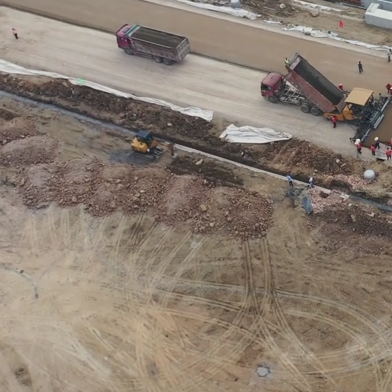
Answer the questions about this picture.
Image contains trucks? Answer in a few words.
Yes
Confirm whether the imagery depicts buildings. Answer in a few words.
No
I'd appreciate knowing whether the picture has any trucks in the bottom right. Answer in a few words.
No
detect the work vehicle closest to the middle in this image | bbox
[129,129,172,160]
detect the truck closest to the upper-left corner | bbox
[112,21,188,64]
